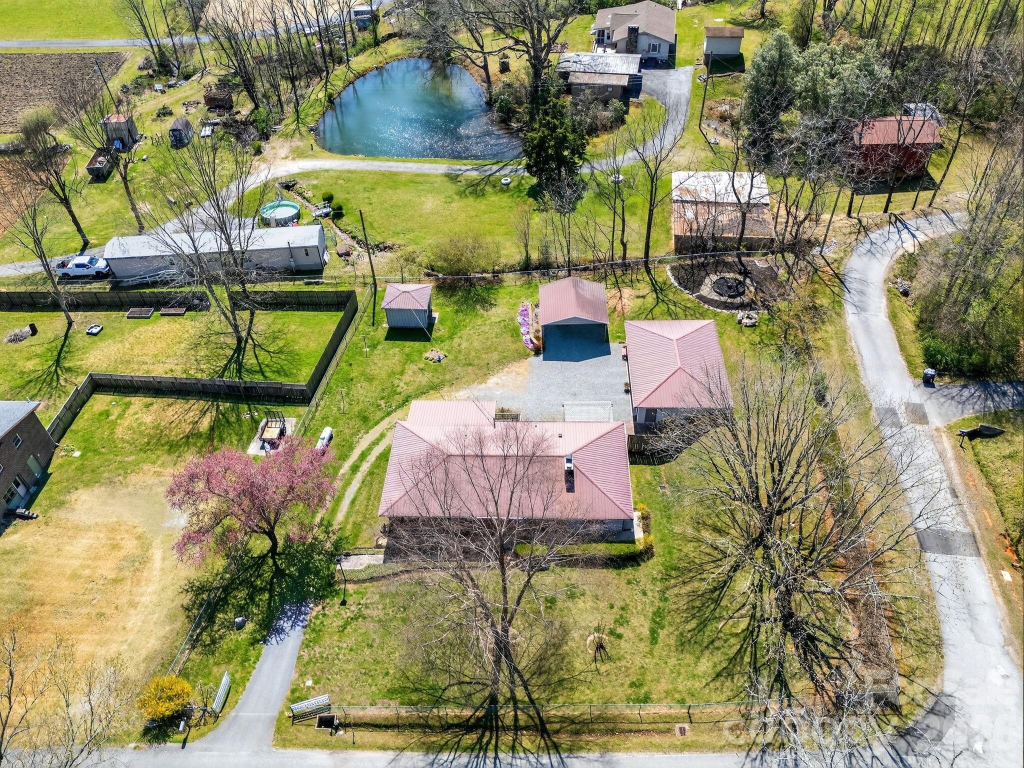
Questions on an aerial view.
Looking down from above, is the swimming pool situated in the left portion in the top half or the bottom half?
top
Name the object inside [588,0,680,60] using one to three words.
house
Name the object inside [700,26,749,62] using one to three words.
shed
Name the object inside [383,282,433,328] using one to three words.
shed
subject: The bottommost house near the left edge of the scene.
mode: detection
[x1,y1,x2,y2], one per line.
[0,399,59,533]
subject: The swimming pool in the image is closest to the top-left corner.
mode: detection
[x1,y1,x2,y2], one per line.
[259,194,303,226]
